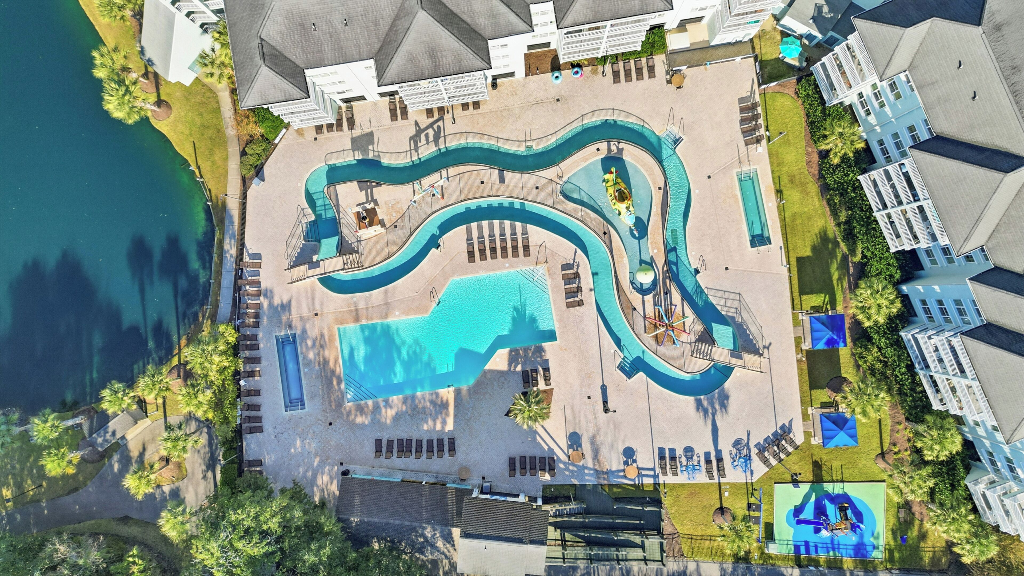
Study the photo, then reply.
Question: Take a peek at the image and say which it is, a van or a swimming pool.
swimming pool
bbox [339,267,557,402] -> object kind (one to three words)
swimming pool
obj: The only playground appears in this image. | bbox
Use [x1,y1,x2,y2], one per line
[797,499,862,543]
